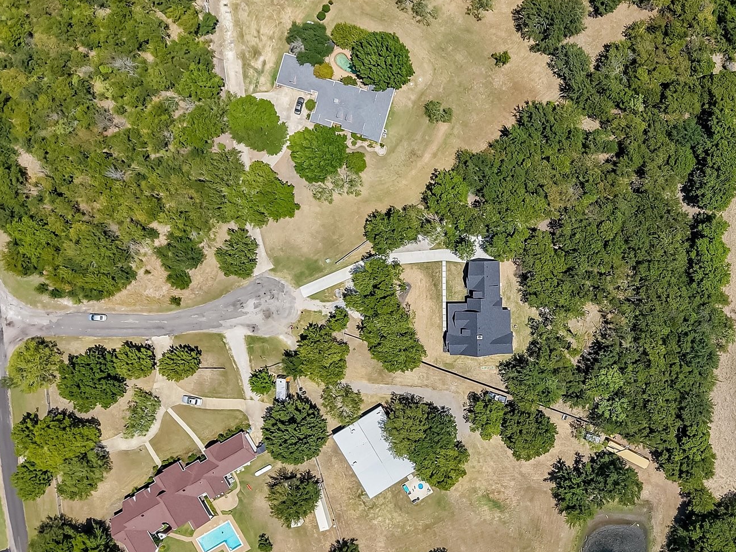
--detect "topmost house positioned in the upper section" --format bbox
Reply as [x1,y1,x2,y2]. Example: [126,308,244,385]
[275,52,395,143]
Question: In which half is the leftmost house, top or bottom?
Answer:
bottom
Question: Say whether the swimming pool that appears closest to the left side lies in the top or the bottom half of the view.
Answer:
bottom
